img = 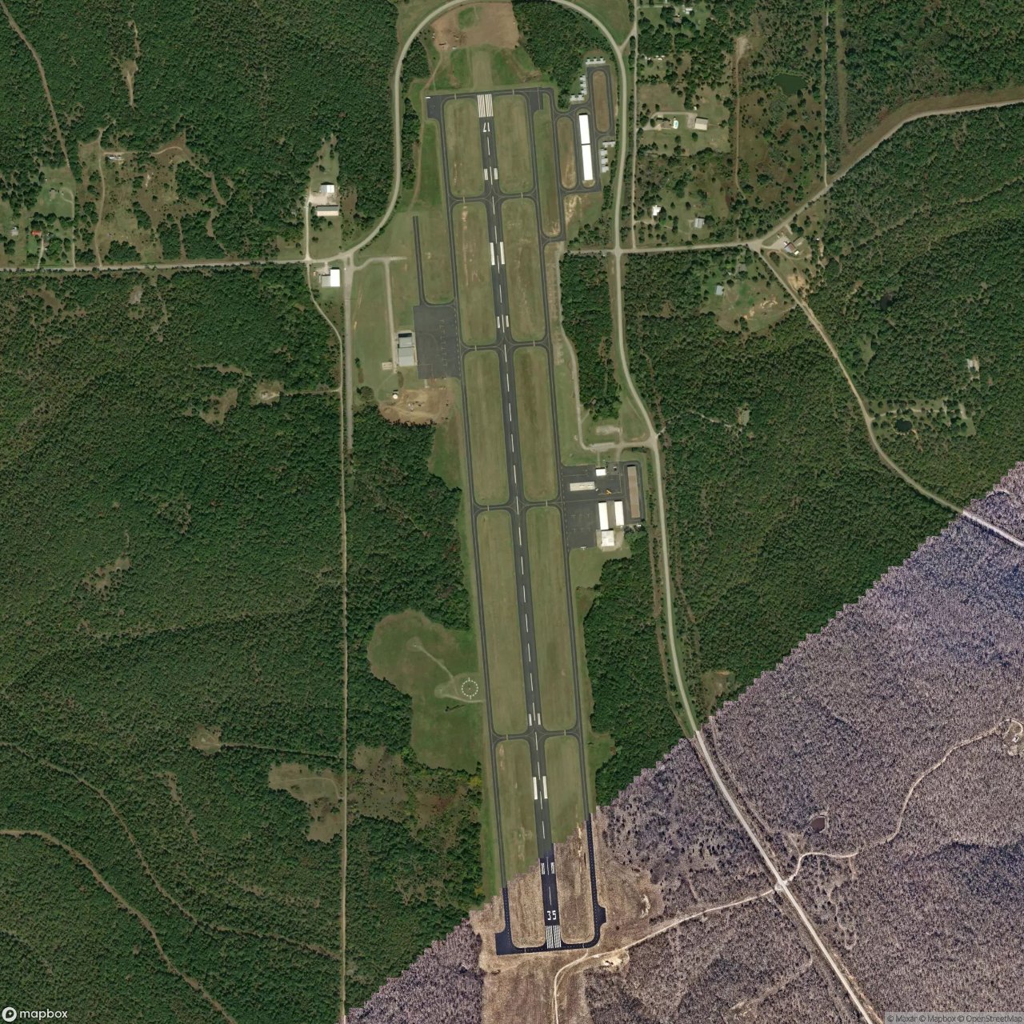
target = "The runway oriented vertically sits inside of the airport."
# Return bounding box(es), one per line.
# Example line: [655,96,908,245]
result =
[477,91,562,949]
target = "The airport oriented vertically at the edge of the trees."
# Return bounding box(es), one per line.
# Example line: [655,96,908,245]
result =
[382,66,646,955]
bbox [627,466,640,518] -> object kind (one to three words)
hangar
